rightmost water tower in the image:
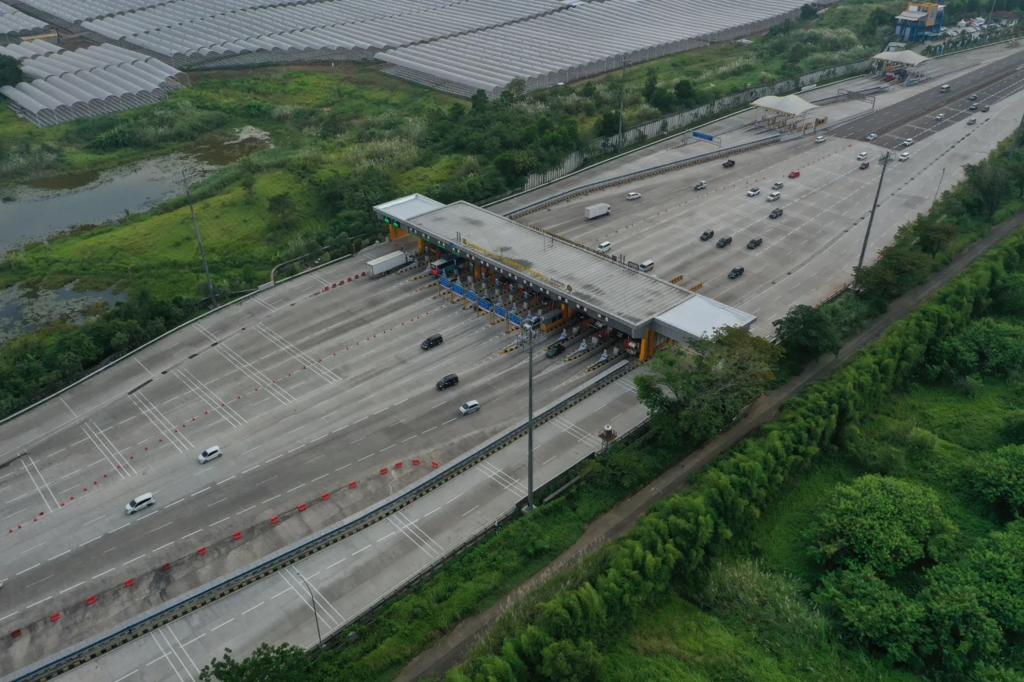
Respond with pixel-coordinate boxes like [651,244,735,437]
[601,423,627,461]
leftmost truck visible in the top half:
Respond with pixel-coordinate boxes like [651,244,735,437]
[366,250,409,275]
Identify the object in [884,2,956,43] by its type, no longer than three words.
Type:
building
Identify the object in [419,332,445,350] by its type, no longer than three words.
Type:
car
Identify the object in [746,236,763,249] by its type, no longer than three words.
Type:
vehicle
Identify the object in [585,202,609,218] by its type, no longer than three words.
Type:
vehicle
